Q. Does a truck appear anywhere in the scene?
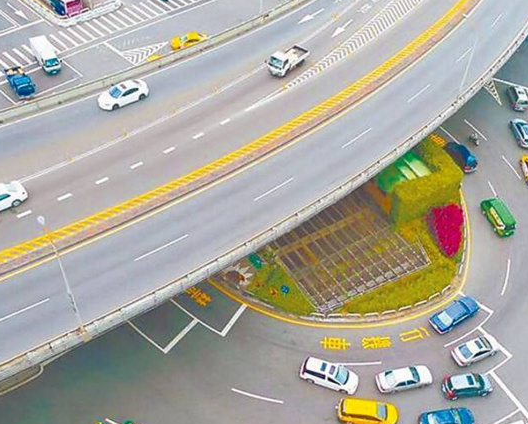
Yes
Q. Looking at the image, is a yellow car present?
Yes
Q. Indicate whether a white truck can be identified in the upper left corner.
Yes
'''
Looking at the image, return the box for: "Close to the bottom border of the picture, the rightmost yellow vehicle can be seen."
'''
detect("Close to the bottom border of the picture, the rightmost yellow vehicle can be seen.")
[338,398,396,424]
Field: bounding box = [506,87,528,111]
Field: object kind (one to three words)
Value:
car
